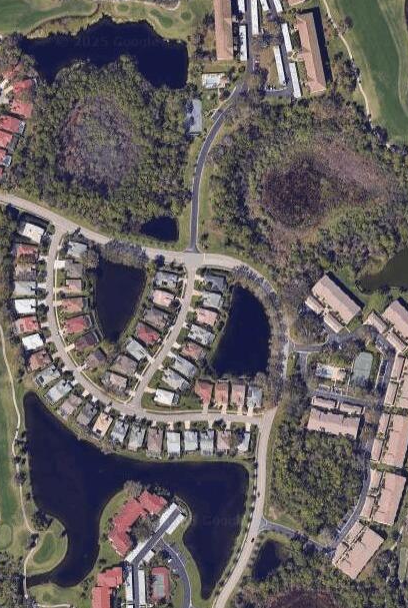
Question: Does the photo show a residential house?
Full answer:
Yes, this view includes a residential house.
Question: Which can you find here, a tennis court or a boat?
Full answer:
It is a tennis court that can be seen here.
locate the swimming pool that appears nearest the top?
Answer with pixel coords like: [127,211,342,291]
[200,72,222,88]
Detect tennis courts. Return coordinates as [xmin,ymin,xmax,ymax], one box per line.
[354,351,374,384]
[151,568,169,599]
[188,99,202,135]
